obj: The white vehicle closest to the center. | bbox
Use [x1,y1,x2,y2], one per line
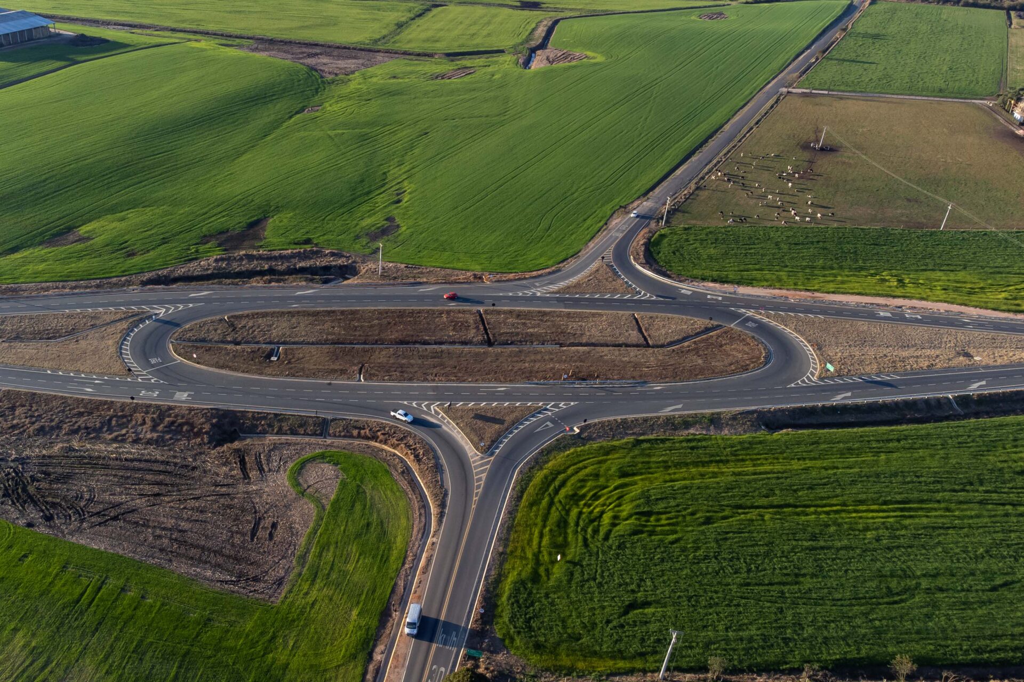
[390,409,413,424]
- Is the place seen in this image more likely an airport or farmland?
farmland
